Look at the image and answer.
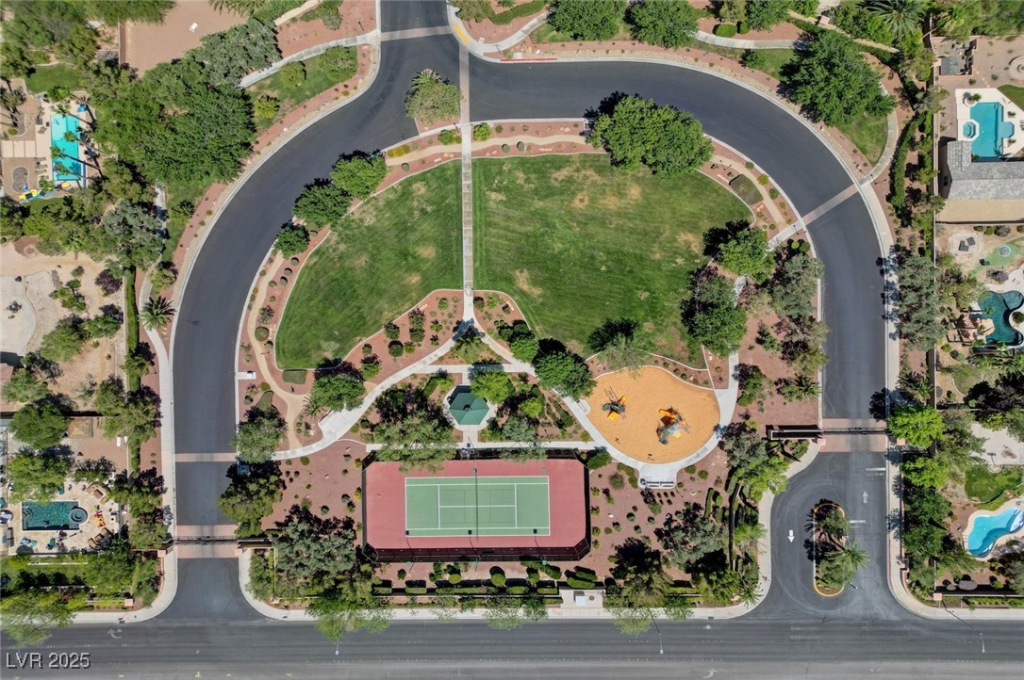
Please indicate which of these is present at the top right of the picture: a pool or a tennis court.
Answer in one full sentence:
There is a pool at the top right of the picture.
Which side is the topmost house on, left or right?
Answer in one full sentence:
The topmost house sits on the right side.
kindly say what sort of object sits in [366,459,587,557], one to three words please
tennis court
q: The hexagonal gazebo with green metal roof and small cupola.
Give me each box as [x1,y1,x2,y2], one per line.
[449,392,490,426]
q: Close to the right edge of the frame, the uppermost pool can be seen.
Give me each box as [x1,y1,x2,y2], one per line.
[955,88,1024,159]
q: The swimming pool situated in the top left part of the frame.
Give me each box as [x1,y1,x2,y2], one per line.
[35,98,99,193]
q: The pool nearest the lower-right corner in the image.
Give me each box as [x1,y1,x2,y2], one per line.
[962,498,1024,563]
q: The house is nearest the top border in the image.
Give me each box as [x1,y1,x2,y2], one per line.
[939,139,1024,200]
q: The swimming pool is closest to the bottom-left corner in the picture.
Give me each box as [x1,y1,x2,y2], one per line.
[8,477,121,553]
